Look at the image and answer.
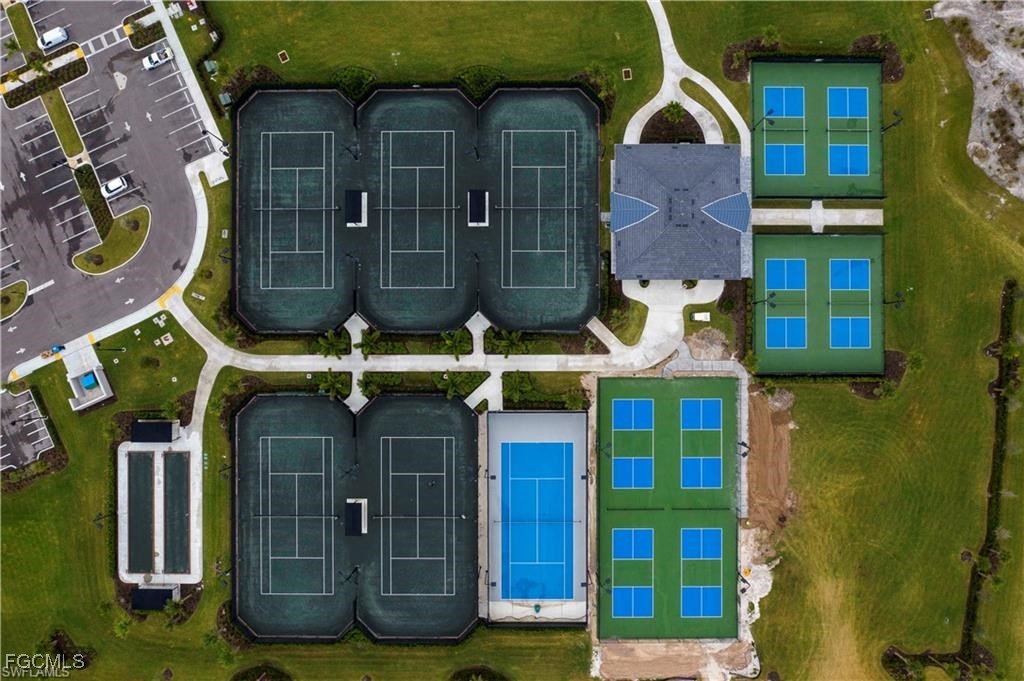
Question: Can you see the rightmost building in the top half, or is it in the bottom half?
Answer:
top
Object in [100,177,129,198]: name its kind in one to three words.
car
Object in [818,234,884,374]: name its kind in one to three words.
sports court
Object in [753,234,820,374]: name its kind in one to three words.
sports court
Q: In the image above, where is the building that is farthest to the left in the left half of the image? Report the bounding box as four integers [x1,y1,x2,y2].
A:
[64,364,116,412]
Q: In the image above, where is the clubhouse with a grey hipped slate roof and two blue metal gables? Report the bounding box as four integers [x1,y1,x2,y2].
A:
[608,144,750,279]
